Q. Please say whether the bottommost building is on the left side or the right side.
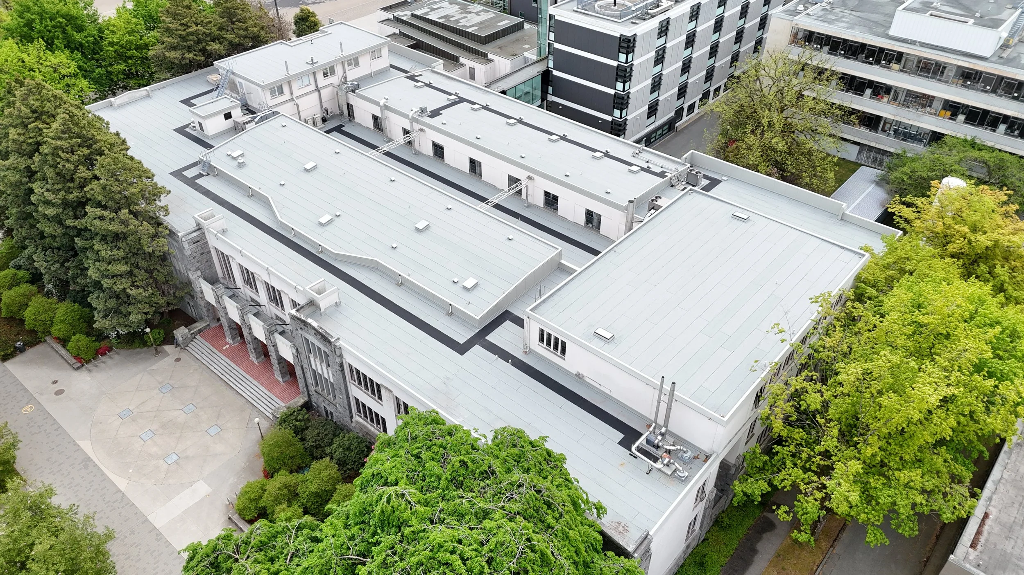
right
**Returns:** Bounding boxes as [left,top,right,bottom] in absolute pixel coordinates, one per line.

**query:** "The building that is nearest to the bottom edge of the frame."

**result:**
[936,397,1024,575]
